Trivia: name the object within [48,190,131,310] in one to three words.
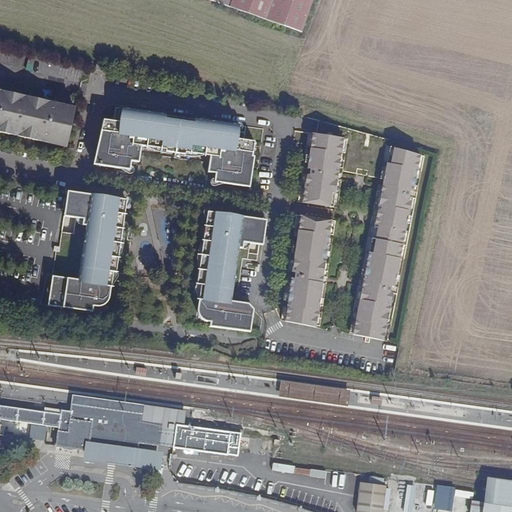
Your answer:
building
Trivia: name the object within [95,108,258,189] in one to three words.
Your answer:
building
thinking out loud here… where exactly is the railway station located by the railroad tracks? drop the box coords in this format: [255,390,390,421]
[30,395,187,470]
